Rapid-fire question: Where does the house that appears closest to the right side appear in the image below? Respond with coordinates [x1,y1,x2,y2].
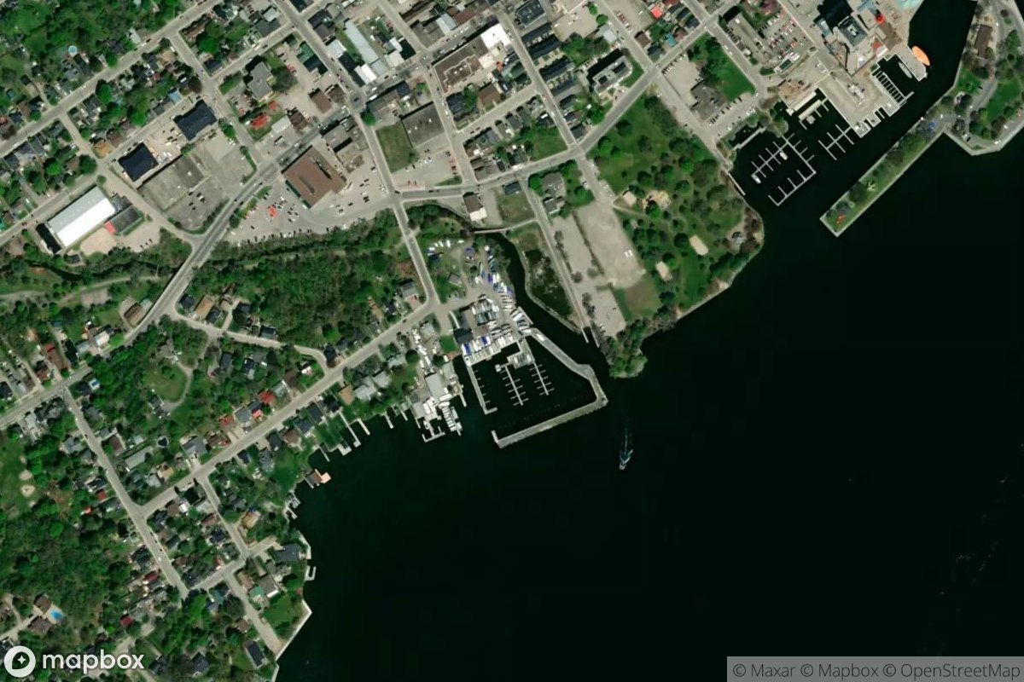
[976,24,991,56]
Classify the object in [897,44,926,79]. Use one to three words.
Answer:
pier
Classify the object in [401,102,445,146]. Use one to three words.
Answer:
building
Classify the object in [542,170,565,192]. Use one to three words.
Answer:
house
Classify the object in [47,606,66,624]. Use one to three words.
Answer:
swimming pool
